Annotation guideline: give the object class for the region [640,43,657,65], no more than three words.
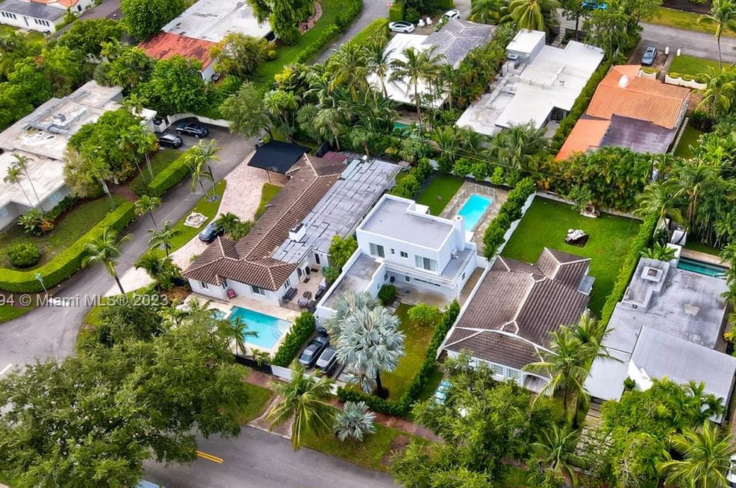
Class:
car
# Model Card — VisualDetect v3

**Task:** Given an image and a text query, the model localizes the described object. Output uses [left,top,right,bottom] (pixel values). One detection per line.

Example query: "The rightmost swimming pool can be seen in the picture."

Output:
[681,259,735,284]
